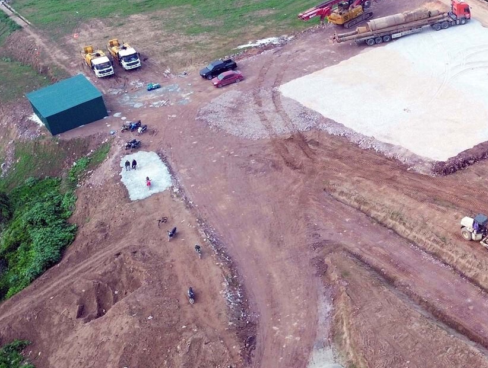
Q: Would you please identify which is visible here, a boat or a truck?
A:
truck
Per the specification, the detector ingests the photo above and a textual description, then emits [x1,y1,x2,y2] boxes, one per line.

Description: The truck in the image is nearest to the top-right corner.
[354,1,476,45]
